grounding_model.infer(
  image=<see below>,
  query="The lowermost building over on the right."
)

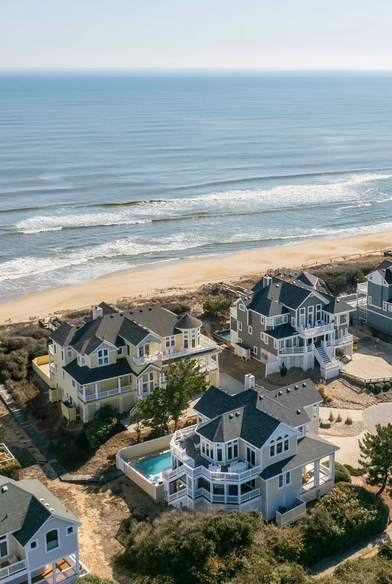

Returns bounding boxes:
[163,368,342,524]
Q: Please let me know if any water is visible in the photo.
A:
Yes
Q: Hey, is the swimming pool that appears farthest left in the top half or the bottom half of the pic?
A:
bottom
